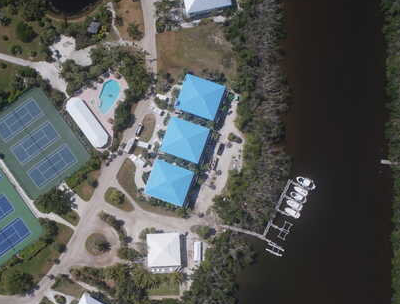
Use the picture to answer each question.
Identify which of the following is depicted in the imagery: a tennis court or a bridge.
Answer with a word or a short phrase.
tennis court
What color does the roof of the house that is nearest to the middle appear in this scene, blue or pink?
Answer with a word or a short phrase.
blue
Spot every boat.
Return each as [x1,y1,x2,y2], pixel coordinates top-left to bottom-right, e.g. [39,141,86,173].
[291,193,308,203]
[288,200,305,210]
[294,187,311,197]
[297,178,318,189]
[286,208,303,218]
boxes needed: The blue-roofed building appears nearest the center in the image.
[160,117,211,165]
